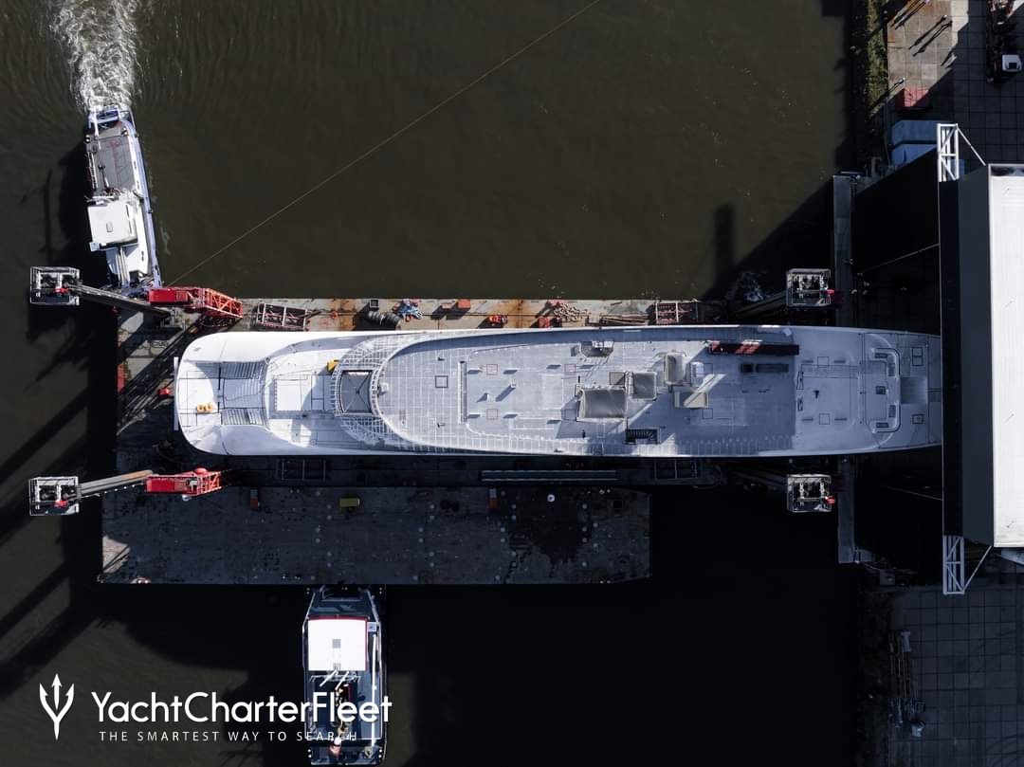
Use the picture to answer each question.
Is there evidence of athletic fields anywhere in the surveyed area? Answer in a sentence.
No, this view has no athletic field in it.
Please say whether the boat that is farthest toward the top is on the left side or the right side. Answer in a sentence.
The boat that is farthest toward the top is on the left side of the image.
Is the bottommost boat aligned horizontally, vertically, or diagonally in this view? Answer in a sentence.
The bottommost boat has been laid out vertically relative to the frame.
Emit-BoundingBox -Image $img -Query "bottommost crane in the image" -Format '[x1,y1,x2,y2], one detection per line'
[143,466,220,500]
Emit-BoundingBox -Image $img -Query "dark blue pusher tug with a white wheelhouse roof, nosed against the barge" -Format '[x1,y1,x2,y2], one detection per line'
[303,585,386,766]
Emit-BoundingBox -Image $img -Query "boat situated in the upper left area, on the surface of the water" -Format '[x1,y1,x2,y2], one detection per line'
[86,108,168,291]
